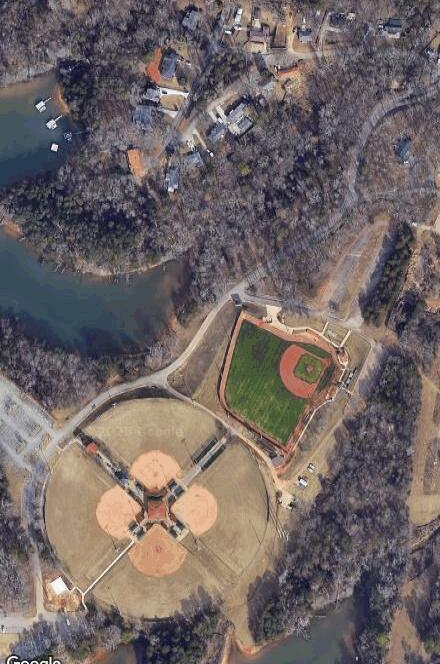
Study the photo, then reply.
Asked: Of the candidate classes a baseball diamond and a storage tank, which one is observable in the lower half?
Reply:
baseball diamond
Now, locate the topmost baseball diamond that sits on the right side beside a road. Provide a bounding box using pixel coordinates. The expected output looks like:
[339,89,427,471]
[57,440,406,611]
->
[218,311,342,451]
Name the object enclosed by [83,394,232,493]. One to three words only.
baseball field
